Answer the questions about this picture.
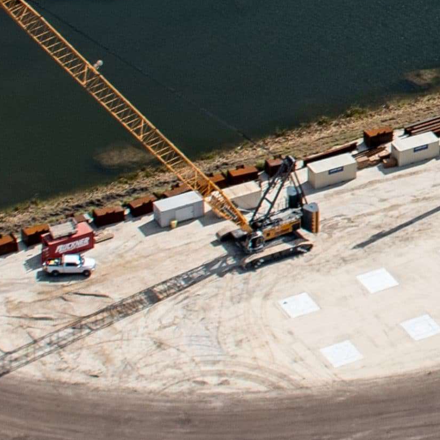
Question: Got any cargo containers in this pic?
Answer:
Yes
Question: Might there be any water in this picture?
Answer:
Yes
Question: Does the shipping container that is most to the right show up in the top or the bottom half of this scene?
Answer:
top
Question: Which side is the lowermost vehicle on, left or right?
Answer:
left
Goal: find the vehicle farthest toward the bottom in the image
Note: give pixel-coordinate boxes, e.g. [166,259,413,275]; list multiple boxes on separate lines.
[46,256,97,276]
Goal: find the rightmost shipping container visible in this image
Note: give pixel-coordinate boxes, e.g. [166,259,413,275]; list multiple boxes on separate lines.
[391,130,439,166]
